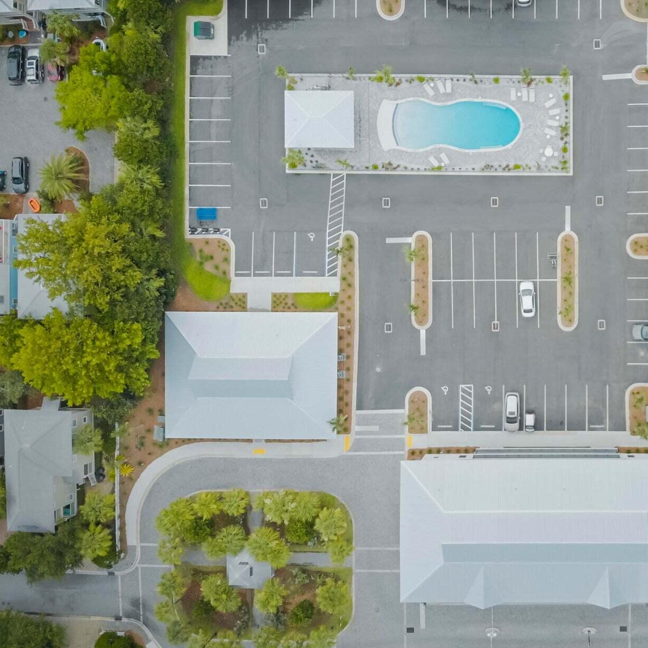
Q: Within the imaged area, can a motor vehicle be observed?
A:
Yes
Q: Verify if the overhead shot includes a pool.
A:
Yes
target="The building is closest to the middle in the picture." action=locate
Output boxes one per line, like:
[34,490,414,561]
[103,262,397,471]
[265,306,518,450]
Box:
[164,311,338,440]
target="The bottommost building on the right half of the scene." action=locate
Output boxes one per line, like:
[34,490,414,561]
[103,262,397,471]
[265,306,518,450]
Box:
[399,444,648,609]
